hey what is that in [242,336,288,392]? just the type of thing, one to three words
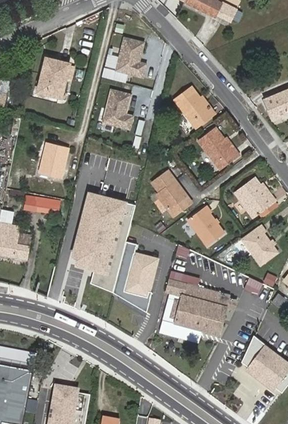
building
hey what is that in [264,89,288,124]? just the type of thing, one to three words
house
